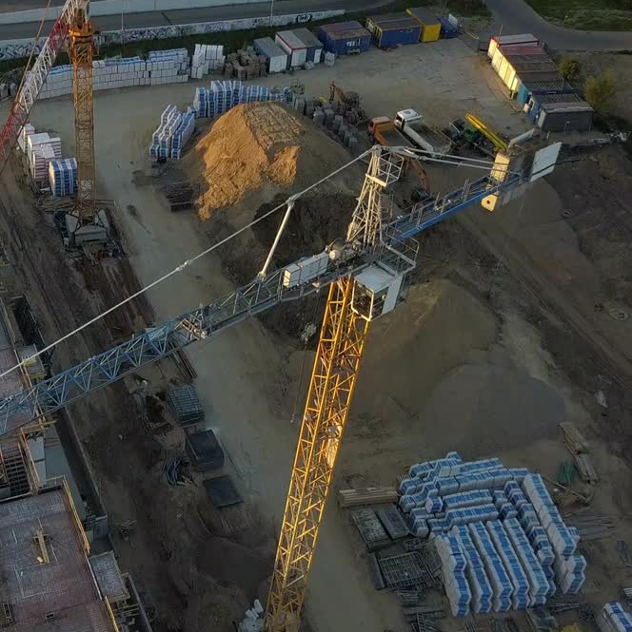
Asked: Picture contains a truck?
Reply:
Yes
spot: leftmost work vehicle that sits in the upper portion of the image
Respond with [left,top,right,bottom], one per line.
[302,80,383,125]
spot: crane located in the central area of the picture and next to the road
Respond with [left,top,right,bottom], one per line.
[0,120,563,632]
